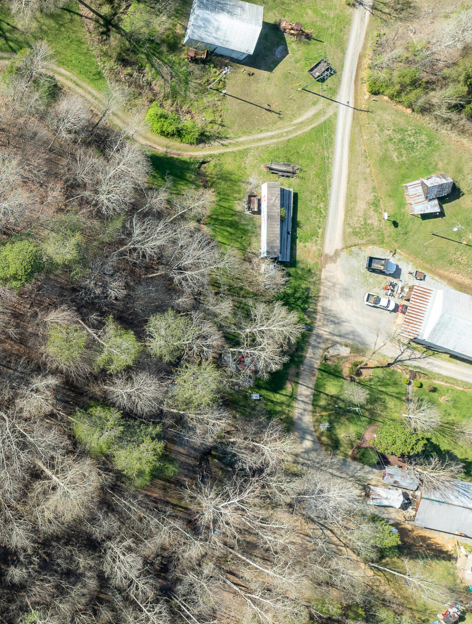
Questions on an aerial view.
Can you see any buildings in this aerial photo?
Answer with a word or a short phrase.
Yes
